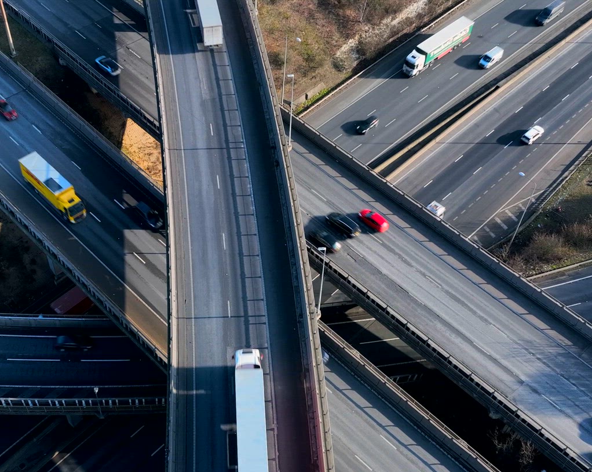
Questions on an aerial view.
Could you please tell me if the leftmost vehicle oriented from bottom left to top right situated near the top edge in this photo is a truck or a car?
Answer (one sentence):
I'd say the leftmost vehicle oriented from bottom left to top right situated near the top edge is a truck.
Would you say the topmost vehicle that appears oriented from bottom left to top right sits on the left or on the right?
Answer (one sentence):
You can find the topmost vehicle that appears oriented from bottom left to top right on the right side of the picture.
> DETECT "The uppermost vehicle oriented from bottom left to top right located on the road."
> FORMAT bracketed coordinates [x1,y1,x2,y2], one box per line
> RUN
[539,1,563,23]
